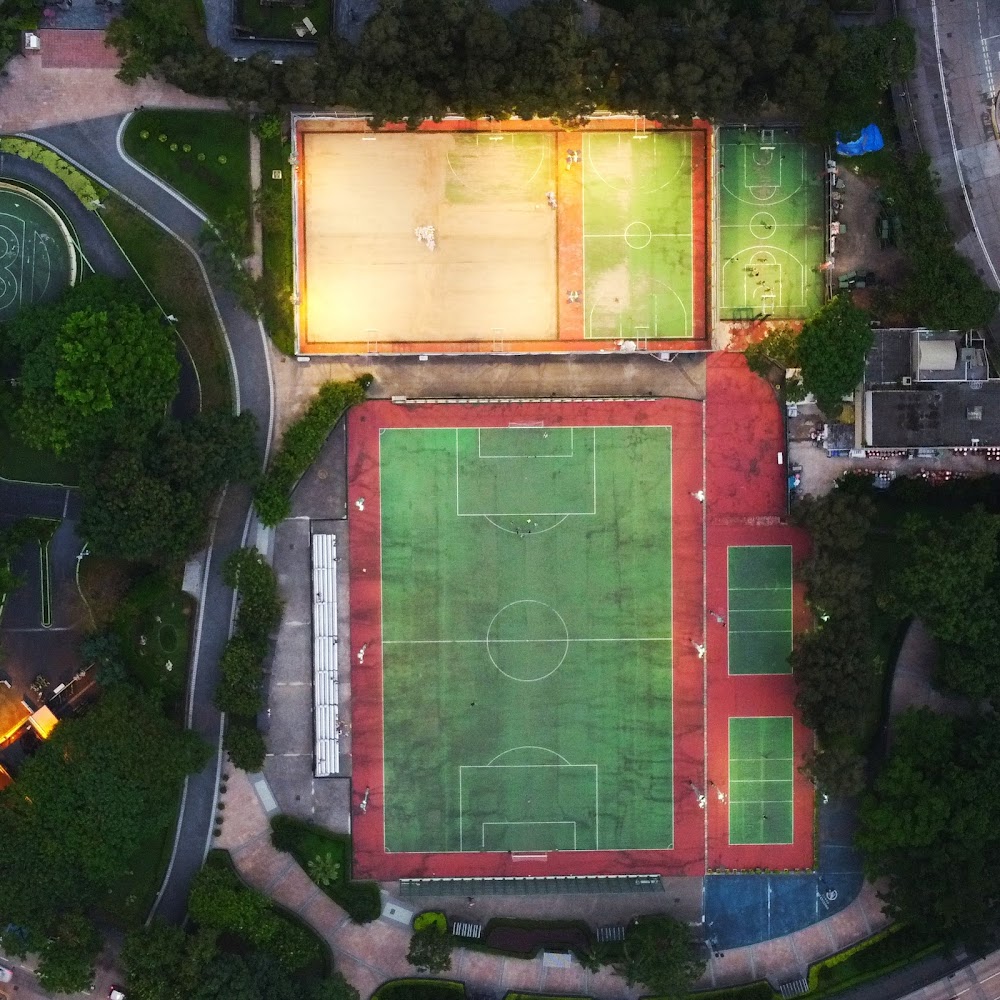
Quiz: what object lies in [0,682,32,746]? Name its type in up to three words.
house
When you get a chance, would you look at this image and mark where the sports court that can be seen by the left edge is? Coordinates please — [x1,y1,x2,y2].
[0,180,79,338]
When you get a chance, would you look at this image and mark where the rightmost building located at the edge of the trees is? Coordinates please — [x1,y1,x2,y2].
[855,327,1000,448]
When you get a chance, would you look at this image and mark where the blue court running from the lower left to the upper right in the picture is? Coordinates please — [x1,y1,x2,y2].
[706,797,864,950]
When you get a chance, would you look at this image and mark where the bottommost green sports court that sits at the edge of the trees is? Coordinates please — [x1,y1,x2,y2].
[729,716,794,846]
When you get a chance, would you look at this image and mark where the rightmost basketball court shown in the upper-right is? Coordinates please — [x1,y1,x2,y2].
[719,128,826,320]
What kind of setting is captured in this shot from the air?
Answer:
sports ground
